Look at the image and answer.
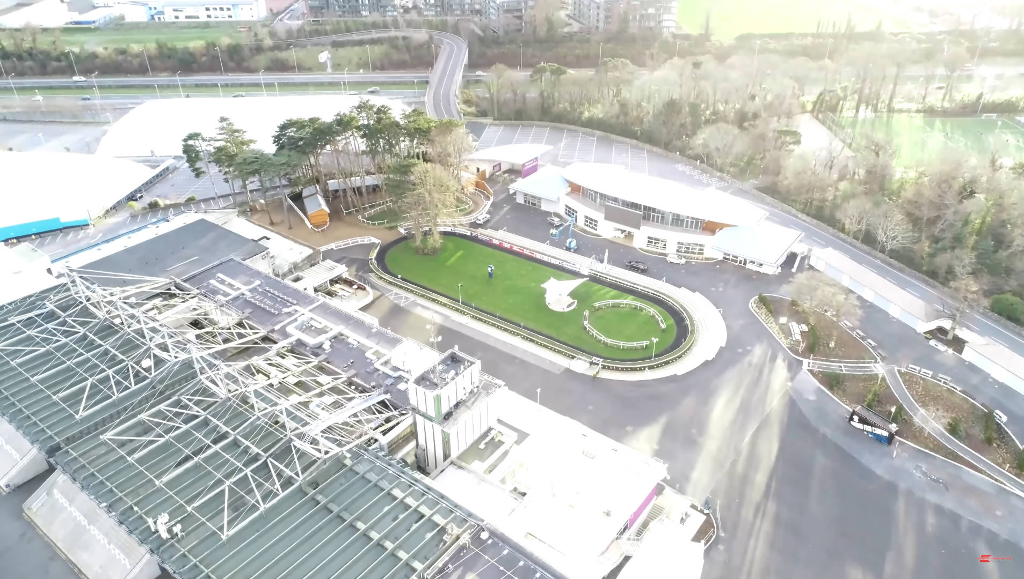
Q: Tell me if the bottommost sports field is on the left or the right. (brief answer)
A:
right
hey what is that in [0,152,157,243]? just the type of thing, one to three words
building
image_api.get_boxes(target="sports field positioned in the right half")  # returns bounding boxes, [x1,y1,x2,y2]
[831,116,1024,177]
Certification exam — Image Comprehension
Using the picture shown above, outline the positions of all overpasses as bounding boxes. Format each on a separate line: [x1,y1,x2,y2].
[210,27,471,128]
